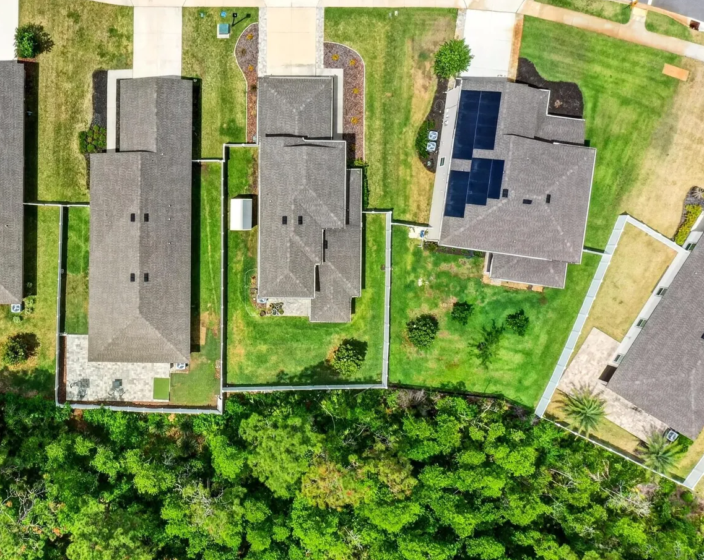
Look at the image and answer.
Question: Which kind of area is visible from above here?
residential area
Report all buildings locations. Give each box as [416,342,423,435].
[257,77,362,323]
[596,210,704,440]
[88,77,192,364]
[0,62,24,303]
[231,199,252,231]
[426,79,597,289]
